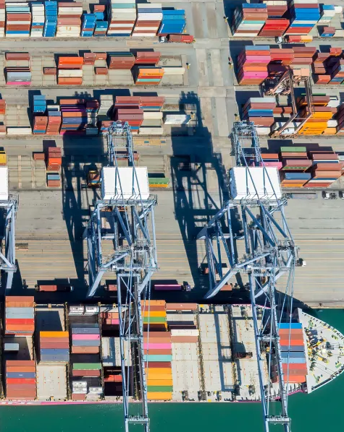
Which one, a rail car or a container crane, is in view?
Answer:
container crane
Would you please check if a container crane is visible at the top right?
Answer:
Yes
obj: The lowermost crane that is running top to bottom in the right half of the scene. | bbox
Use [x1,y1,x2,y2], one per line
[192,115,295,432]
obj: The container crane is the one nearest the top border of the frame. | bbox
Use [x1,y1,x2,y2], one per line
[263,67,315,140]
